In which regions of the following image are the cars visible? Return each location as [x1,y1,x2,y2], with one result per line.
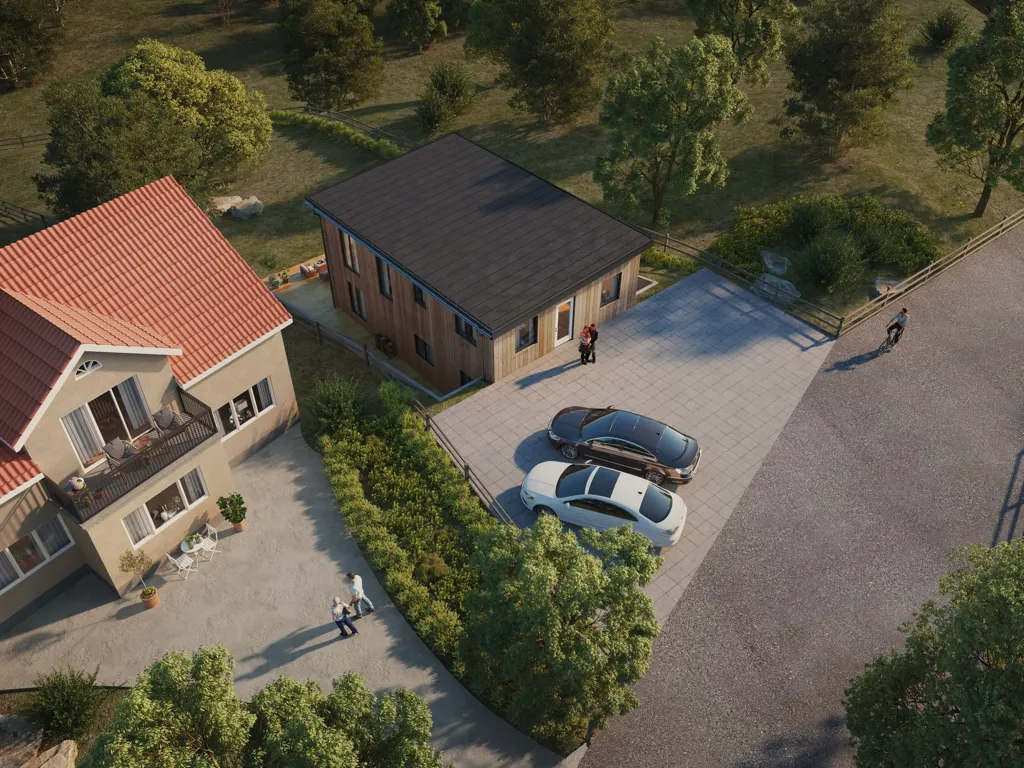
[546,404,702,487]
[518,455,684,544]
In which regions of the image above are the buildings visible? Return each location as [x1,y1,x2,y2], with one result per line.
[300,132,655,394]
[0,175,301,623]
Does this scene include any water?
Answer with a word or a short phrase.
No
